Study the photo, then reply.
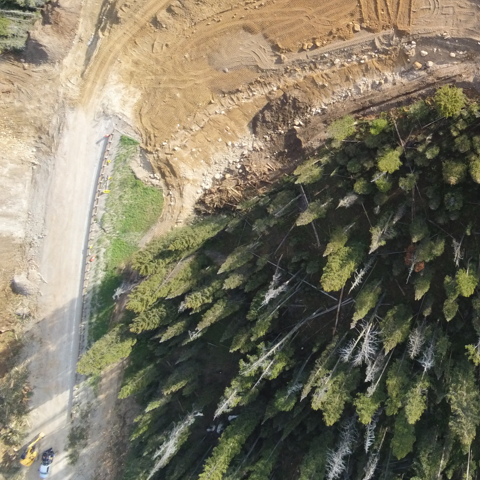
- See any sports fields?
No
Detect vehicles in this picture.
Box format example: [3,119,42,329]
[38,446,58,480]
[23,439,45,469]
